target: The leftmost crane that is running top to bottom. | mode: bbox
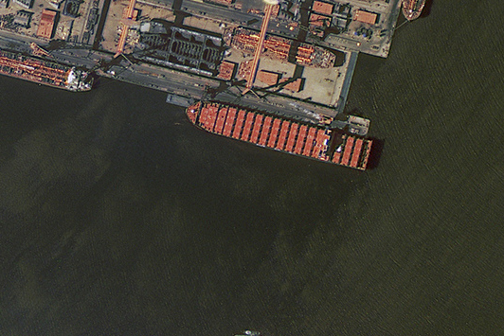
[104,0,137,64]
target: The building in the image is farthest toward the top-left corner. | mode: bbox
[37,10,57,41]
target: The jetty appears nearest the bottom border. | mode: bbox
[344,115,372,138]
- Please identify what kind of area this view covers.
port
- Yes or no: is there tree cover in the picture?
No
